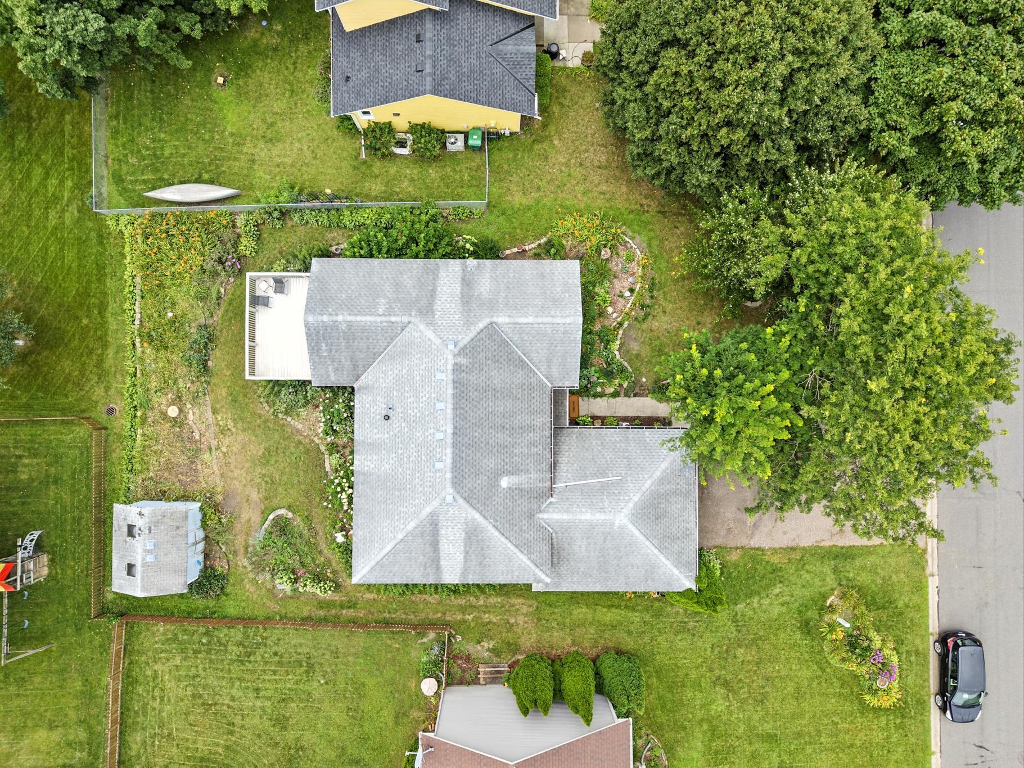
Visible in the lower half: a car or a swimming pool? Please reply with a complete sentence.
Looking in the lower half, you will find a car.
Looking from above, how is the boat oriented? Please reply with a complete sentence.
The boat runs from side to side in the image.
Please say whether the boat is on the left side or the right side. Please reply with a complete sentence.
The boat appears in the left half of the scene.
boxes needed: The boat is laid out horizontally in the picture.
[140,183,241,204]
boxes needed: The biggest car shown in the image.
[935,633,990,723]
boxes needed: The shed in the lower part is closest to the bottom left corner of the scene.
[113,501,204,601]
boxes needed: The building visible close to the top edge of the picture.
[312,0,563,157]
